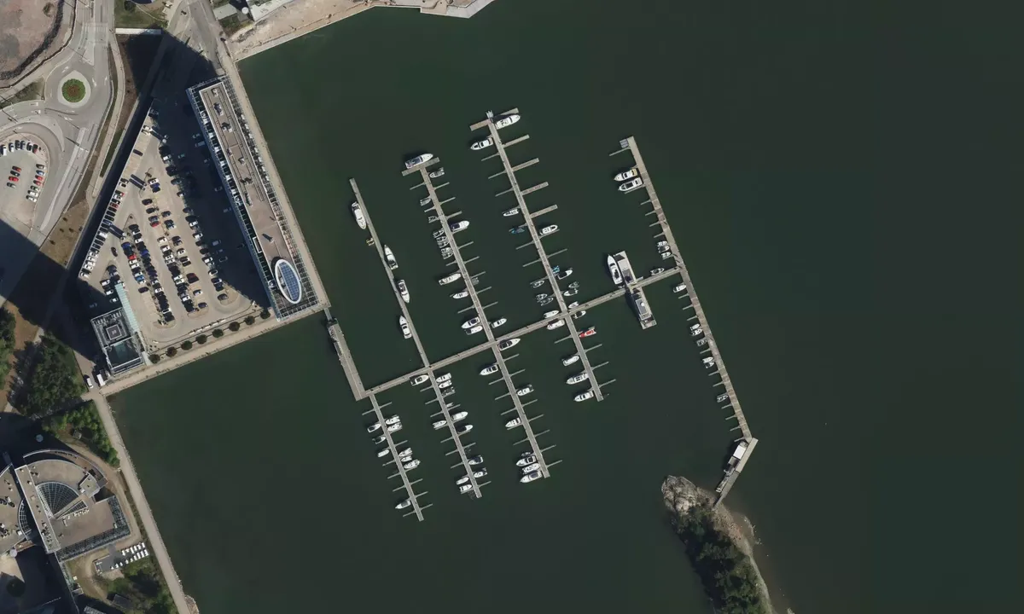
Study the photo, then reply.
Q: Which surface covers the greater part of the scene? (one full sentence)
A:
What you mostly see from above here is water.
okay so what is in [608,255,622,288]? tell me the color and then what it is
white boat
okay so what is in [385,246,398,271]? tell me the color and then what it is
white boat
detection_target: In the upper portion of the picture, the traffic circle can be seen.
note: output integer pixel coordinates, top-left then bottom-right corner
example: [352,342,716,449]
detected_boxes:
[57,69,90,104]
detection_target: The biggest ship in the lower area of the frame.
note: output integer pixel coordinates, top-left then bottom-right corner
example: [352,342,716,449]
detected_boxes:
[716,441,748,493]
